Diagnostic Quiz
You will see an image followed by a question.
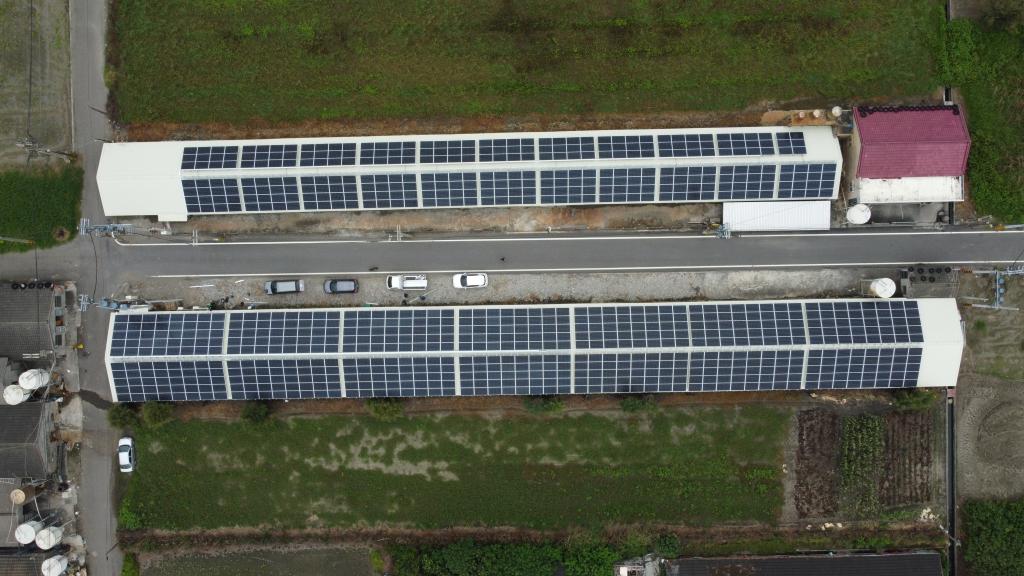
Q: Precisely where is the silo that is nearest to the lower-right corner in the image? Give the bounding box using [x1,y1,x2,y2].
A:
[859,277,897,299]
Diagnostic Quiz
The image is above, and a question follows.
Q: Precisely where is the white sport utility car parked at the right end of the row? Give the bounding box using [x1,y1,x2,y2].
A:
[452,272,488,290]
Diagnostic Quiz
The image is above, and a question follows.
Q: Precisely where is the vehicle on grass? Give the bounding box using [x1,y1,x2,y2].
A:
[116,435,136,473]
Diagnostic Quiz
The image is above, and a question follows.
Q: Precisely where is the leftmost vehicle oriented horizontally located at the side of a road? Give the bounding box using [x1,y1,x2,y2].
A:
[266,278,305,295]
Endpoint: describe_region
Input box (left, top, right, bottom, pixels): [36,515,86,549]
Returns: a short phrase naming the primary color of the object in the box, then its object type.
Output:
white silo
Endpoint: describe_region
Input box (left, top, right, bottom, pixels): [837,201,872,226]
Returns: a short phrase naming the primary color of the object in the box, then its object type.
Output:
white silo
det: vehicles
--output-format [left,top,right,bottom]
[324,278,359,295]
[386,274,428,291]
[452,272,488,290]
[116,435,136,473]
[266,278,305,295]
